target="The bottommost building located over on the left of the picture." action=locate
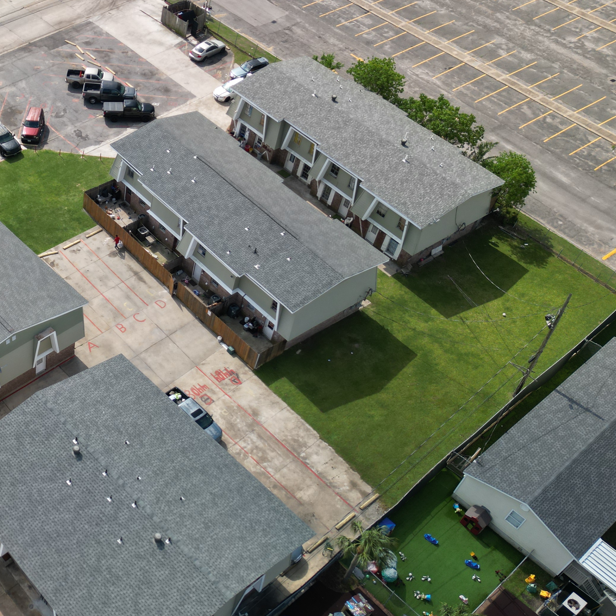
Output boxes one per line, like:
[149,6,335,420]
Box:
[0,354,316,616]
